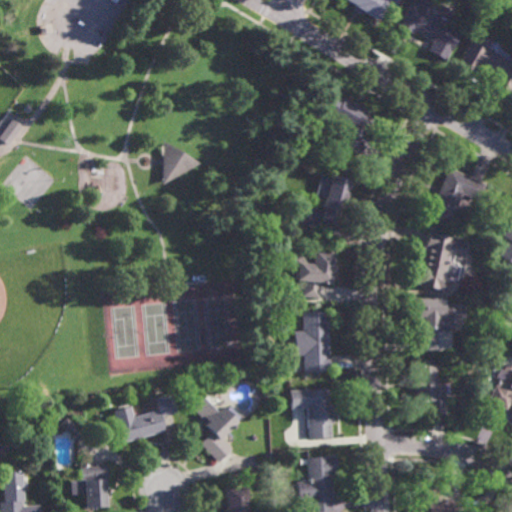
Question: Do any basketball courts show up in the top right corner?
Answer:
No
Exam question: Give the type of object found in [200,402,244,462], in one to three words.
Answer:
house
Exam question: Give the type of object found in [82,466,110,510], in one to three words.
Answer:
house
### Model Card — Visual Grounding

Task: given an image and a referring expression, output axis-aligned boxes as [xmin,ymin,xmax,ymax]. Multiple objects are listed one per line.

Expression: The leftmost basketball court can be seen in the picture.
[6,156,54,208]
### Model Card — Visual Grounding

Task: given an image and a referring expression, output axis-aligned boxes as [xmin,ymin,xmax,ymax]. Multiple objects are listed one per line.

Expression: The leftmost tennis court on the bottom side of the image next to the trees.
[112,305,140,358]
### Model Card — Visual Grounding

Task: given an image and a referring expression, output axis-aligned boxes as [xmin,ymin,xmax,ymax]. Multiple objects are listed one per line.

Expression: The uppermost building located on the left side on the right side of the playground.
[162,144,200,184]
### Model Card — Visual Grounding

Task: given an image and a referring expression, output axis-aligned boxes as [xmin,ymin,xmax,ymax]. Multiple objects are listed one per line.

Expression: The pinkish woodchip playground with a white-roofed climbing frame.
[78,154,126,212]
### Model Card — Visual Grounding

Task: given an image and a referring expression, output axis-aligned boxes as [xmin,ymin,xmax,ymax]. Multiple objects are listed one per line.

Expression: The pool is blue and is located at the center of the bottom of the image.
[238,386,253,410]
